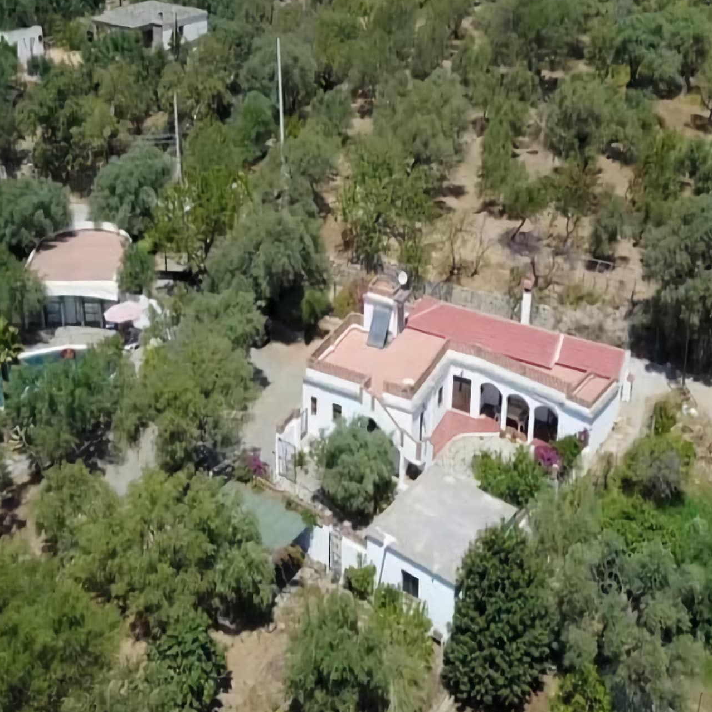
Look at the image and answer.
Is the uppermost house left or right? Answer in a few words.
left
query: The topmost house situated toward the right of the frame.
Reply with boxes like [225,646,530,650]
[301,279,633,492]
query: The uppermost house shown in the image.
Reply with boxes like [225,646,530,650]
[91,1,206,53]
